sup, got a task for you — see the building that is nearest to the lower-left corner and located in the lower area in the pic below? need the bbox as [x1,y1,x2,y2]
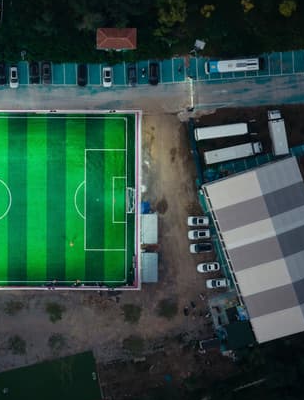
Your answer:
[141,252,158,282]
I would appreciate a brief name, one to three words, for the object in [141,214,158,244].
building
